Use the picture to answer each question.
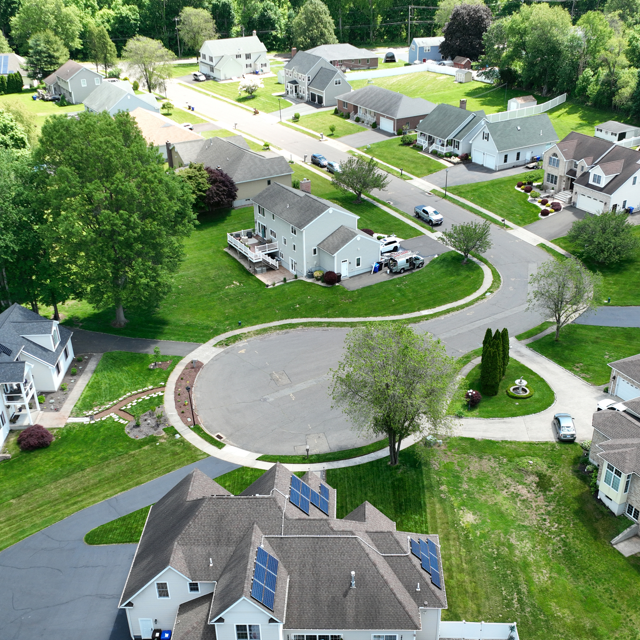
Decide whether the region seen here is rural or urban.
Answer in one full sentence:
The area is urban.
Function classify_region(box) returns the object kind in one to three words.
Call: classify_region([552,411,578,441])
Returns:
car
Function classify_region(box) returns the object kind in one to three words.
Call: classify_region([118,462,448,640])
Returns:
house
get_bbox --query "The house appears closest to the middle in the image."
[226,177,379,280]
